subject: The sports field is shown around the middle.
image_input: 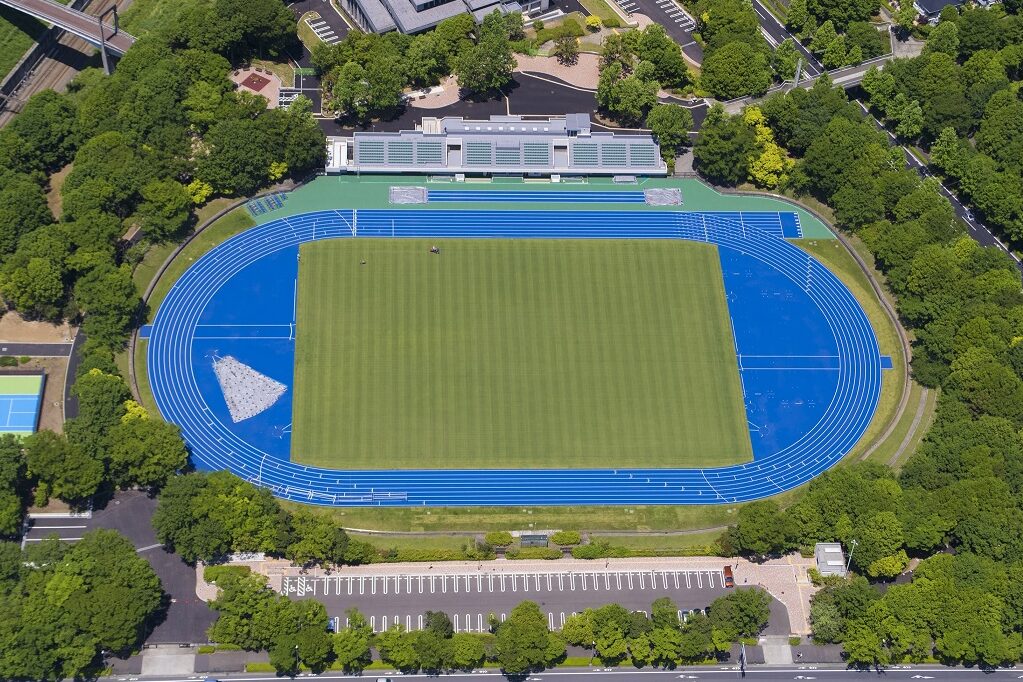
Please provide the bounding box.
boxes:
[291,239,753,469]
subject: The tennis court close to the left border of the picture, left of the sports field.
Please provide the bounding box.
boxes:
[0,374,42,438]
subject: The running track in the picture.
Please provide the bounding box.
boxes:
[138,172,890,505]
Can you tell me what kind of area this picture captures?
sports ground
